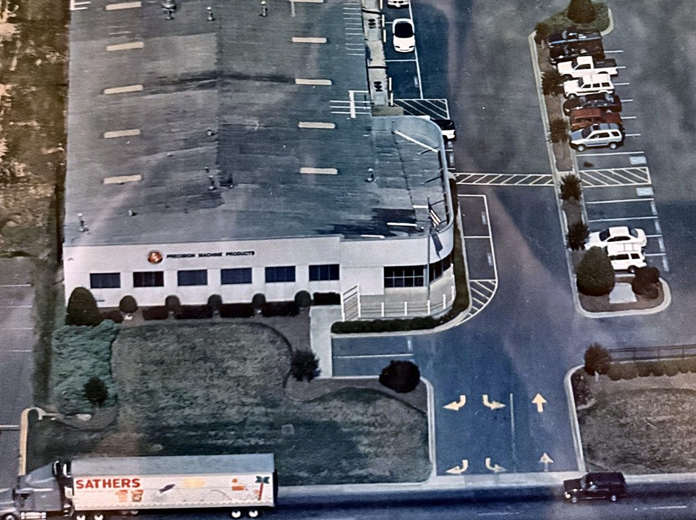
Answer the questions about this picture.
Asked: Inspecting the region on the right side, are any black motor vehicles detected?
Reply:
Yes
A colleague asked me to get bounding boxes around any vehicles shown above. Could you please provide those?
[548,40,604,66]
[0,457,104,518]
[562,73,615,99]
[390,21,413,49]
[546,27,601,49]
[561,94,621,114]
[568,124,623,151]
[562,466,626,502]
[555,58,617,82]
[605,245,646,271]
[567,108,622,133]
[585,228,647,250]
[413,115,455,139]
